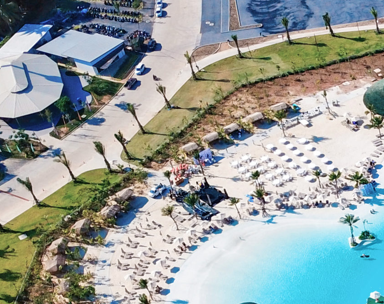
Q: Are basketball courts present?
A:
No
